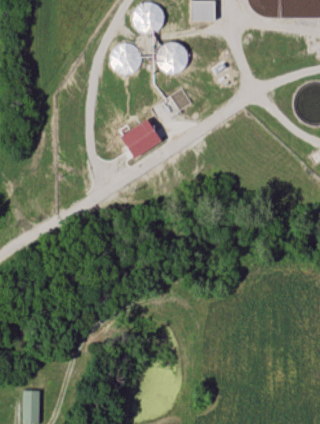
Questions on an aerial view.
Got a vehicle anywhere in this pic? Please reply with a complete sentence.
No, this view has no vehicle in it.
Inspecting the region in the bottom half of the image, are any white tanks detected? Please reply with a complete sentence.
No, I can find no white tank in the bottom half of the image.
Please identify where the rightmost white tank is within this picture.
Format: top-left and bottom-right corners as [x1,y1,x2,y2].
[157,42,190,75]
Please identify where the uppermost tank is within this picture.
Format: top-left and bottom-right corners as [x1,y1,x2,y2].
[132,0,166,34]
